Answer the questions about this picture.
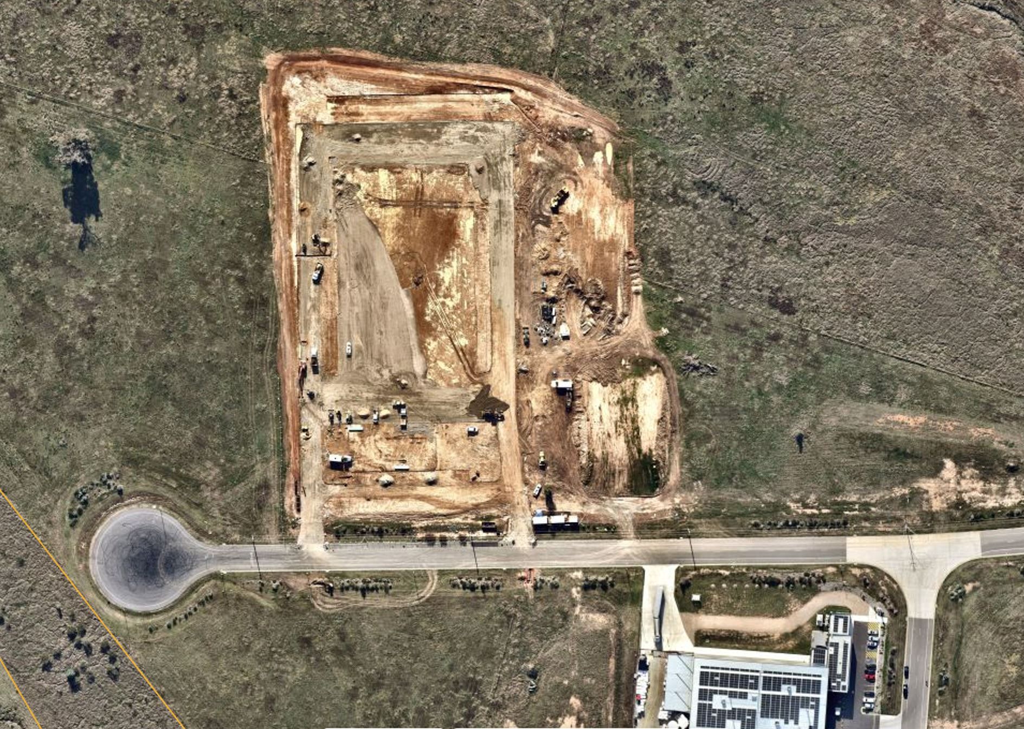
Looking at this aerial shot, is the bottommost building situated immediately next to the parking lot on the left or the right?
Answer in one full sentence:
It is on the right.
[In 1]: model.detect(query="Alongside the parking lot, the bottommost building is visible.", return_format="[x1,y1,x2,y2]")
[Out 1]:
[689,657,829,729]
